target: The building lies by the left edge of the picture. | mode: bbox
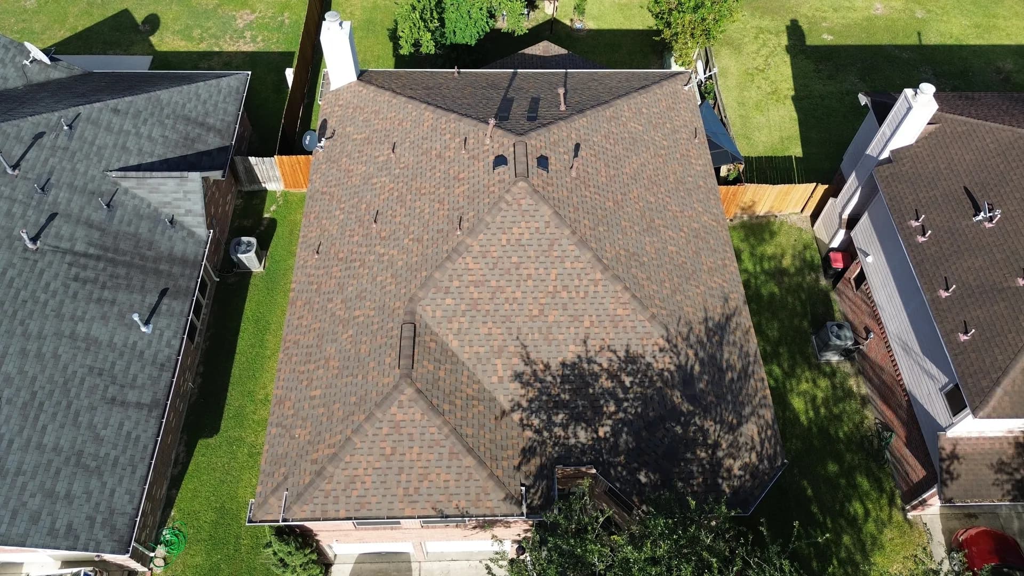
[0,34,254,570]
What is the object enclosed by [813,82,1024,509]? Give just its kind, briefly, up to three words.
house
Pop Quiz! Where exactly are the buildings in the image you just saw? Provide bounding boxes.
[813,82,1024,509]
[0,34,254,570]
[245,14,790,564]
